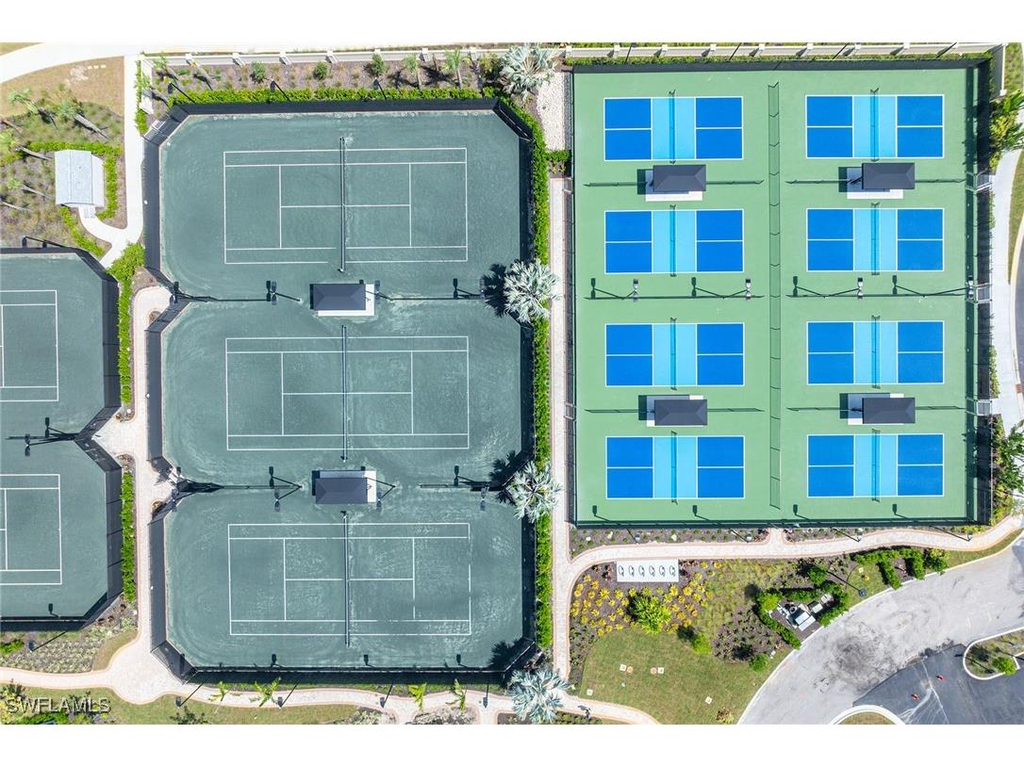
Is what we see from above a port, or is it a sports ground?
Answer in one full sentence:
This image shows a sports ground.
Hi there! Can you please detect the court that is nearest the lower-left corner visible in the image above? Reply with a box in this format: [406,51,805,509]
[0,440,122,620]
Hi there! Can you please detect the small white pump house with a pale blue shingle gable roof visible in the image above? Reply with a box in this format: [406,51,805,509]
[56,148,104,207]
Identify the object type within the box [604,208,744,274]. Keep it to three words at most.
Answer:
sports court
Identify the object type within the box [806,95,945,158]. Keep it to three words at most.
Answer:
sports court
